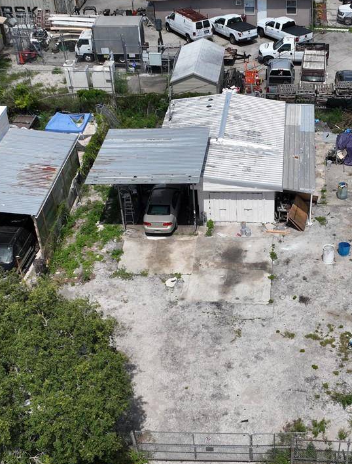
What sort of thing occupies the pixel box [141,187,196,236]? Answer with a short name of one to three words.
car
